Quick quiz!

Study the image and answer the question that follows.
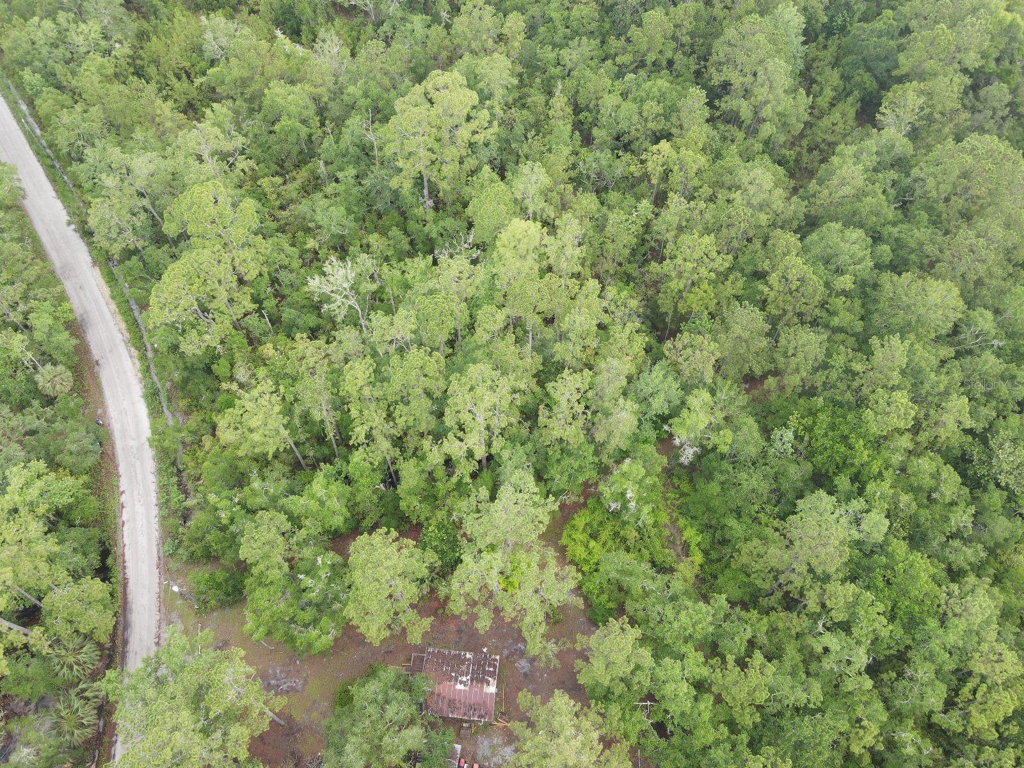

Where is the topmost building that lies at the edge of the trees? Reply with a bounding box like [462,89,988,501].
[403,650,501,744]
